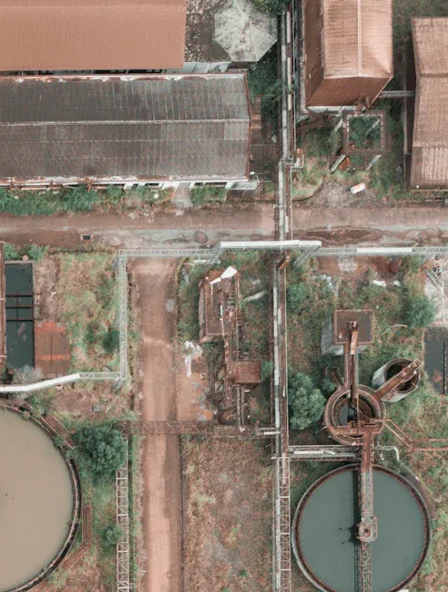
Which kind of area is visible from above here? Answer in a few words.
industrial area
